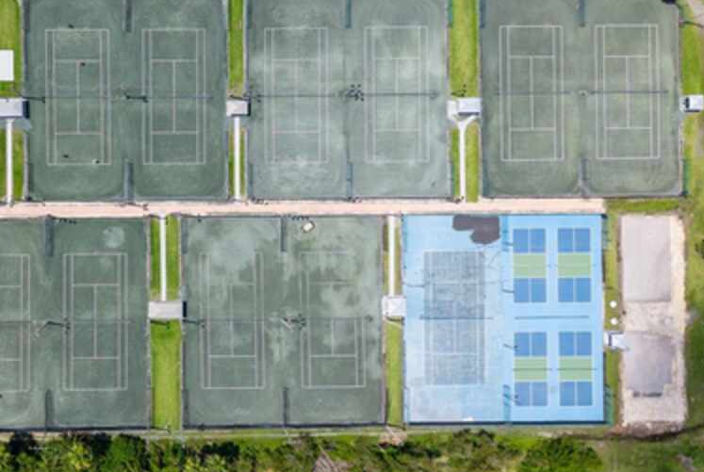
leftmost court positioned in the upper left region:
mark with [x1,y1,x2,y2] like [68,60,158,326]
[22,0,128,201]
